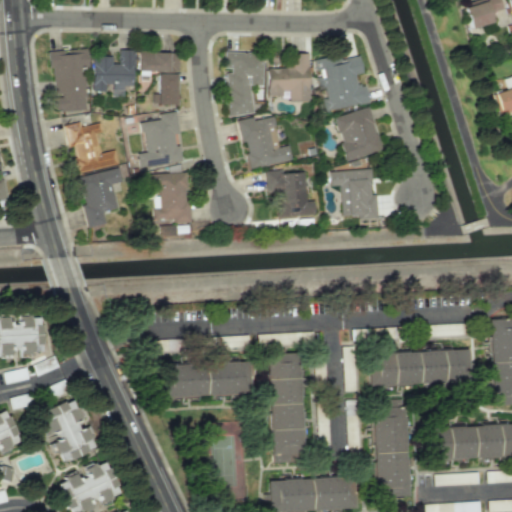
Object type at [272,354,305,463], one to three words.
building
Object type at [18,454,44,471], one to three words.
swimming pool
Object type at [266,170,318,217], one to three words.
house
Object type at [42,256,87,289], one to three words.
bridge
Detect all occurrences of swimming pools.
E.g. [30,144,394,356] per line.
[18,454,44,471]
[326,192,336,214]
[277,102,296,114]
[323,128,336,151]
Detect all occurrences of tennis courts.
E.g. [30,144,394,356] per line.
[208,422,246,502]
